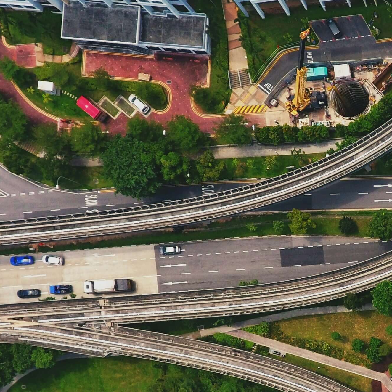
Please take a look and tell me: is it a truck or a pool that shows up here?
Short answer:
truck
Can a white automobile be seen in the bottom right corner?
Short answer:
No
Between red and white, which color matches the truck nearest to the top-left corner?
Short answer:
red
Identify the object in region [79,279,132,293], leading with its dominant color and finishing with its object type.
white vehicle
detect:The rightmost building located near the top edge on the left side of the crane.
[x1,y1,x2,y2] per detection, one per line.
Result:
[140,10,215,59]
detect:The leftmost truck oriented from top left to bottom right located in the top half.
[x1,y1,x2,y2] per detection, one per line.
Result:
[68,91,106,124]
